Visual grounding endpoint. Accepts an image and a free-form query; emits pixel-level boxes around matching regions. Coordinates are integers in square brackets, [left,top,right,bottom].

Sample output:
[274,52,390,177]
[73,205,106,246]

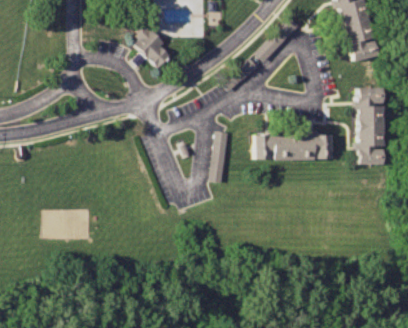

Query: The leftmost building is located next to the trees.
[130,27,171,70]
